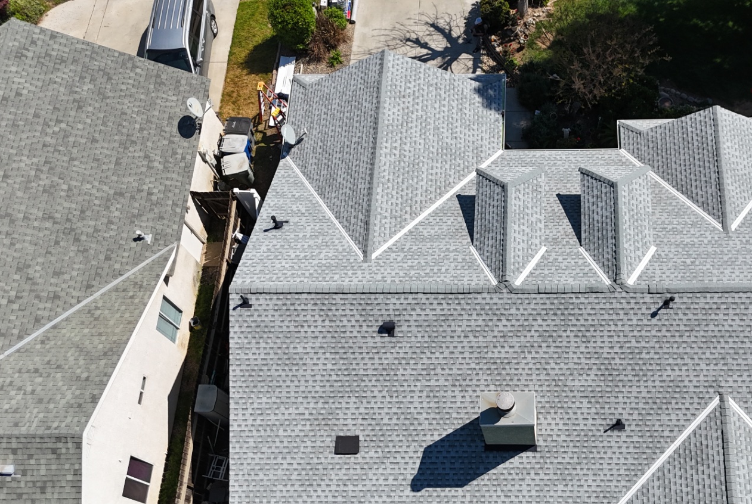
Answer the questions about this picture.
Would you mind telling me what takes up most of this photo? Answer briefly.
buildings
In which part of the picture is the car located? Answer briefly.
top left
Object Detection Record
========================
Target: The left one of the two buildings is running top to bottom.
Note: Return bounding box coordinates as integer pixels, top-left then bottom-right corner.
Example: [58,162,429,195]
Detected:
[0,18,222,504]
